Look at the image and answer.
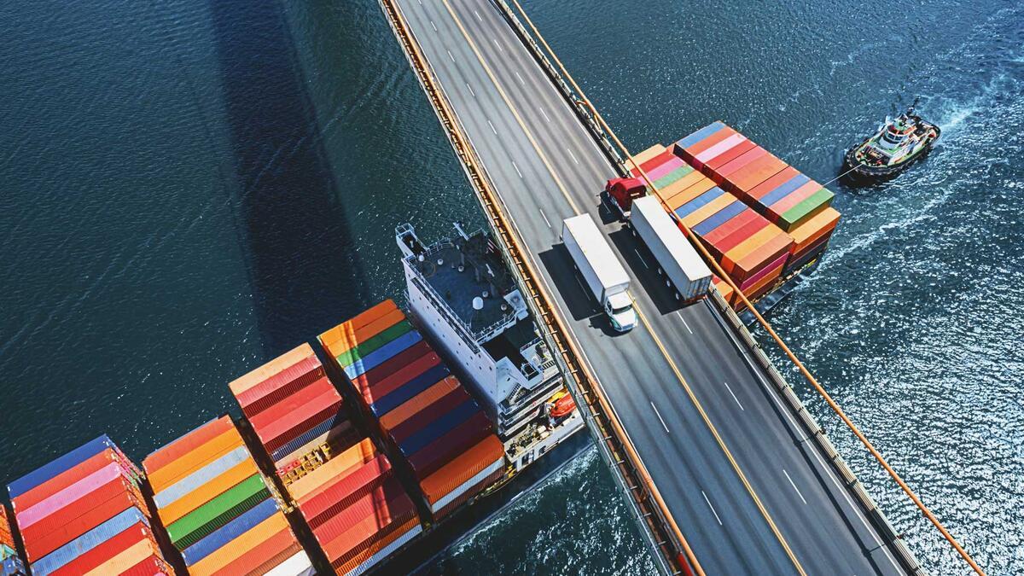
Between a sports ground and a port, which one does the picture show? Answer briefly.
port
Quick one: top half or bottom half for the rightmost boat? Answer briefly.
top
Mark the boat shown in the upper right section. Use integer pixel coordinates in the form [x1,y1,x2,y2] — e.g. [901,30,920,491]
[843,98,944,178]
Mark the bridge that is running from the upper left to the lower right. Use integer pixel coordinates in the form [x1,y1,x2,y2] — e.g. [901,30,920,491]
[374,0,983,576]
